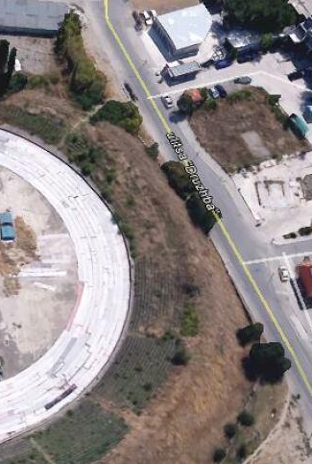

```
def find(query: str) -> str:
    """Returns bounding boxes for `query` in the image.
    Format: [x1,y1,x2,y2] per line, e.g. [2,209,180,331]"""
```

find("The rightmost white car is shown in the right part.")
[278,265,291,280]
